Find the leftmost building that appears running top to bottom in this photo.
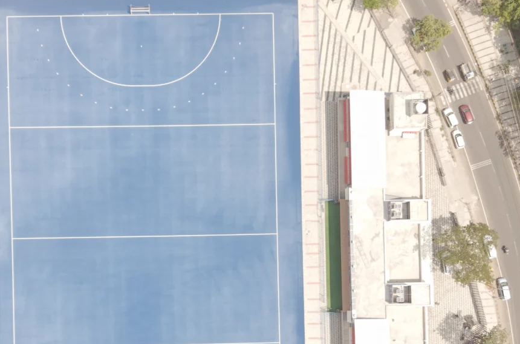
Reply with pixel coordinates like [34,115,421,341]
[325,90,432,344]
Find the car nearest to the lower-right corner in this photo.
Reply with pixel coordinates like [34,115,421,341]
[498,277,513,301]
